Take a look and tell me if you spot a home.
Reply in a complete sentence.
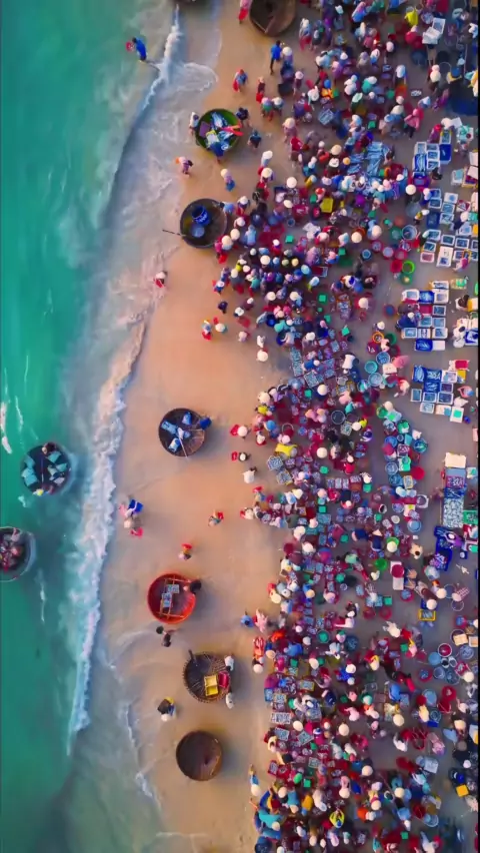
No, I can see no home in this picture.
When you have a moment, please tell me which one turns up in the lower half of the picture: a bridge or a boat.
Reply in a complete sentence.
The feature located in the lower half of the picture is a boat.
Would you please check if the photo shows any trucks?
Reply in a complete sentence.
No, there isn't any truck down there.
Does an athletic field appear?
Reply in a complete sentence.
No, the photo shows no athletic field.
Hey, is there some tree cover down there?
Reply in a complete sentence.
No, the picture contains no tree cover.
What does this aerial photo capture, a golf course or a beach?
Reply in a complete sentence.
The picture captures a beach.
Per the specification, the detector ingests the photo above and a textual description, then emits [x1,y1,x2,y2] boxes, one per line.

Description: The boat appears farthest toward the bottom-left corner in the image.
[174,731,223,781]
